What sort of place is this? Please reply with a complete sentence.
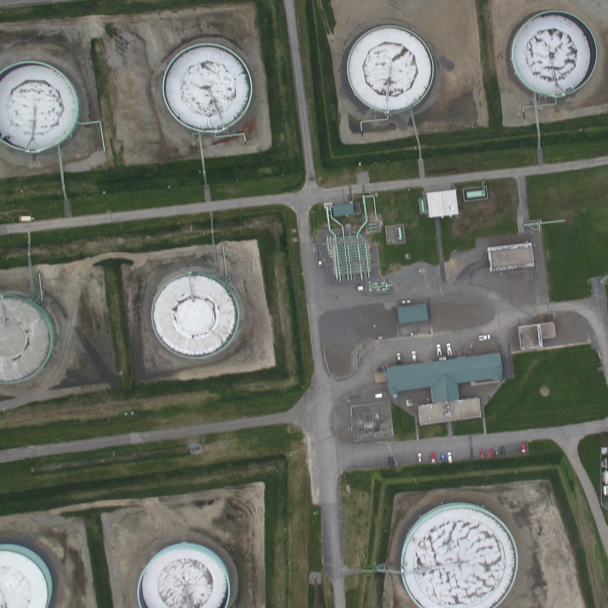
This image shows an industrial area.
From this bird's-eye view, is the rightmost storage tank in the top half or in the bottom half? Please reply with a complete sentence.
The rightmost storage tank sits in the top half of the picture.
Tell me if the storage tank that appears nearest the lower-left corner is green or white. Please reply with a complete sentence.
The storage tank that appears nearest the lower-left corner is white.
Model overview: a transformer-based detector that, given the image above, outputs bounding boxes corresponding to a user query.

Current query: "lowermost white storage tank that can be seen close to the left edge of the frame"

[0,543,58,608]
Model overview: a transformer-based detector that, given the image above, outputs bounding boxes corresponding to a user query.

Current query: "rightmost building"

[518,321,556,349]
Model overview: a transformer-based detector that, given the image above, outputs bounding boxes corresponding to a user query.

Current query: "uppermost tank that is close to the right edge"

[506,10,596,101]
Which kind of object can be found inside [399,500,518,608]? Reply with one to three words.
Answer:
storage tank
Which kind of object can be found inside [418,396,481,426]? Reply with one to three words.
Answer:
building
